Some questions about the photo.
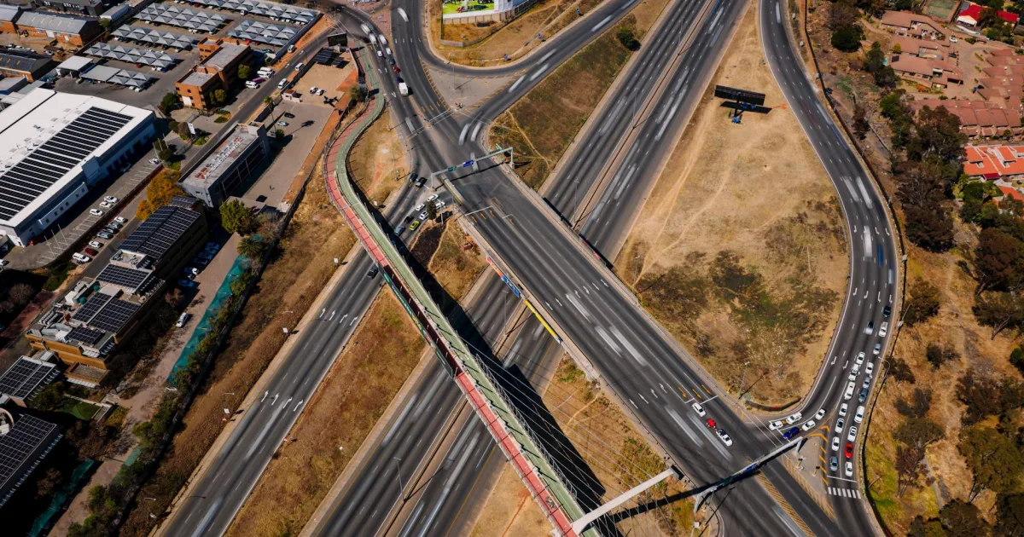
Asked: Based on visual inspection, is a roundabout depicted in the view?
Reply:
No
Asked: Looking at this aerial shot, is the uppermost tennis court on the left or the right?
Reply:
right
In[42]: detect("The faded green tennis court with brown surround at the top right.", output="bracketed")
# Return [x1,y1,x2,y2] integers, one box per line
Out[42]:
[922,0,960,22]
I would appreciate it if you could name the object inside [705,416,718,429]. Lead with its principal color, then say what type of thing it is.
red vehicle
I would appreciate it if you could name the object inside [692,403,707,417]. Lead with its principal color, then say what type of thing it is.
white car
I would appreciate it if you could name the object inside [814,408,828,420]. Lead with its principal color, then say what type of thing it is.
white vehicle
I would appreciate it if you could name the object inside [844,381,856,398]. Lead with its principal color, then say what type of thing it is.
white vehicle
